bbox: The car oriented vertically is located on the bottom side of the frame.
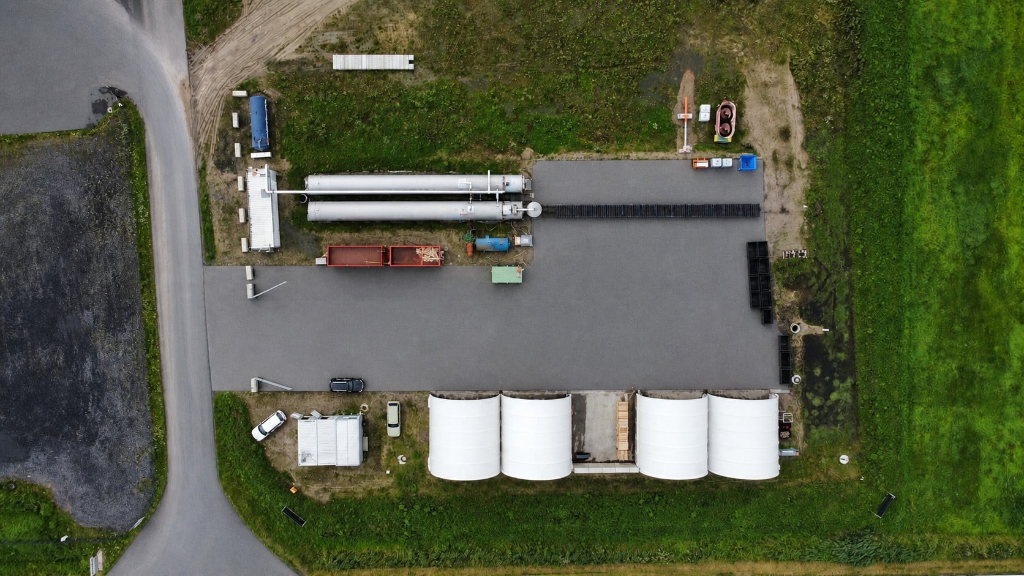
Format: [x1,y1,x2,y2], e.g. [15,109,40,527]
[385,400,402,437]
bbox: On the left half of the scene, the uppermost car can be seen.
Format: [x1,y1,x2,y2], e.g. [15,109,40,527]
[330,376,365,394]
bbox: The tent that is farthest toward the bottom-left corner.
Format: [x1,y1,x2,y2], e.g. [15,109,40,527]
[428,395,501,481]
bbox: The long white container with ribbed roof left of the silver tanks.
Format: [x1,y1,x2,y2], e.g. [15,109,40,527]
[247,167,286,252]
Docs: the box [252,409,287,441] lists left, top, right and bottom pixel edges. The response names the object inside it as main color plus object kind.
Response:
white car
